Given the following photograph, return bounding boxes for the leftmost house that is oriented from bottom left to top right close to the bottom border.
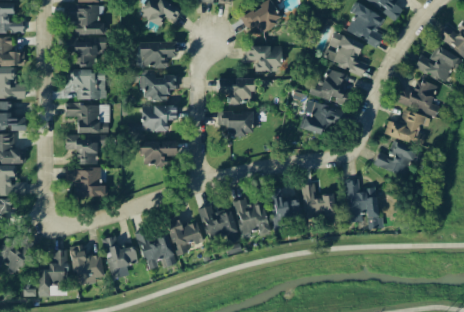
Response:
[37,250,70,299]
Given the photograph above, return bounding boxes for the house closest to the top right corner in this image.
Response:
[440,24,464,60]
